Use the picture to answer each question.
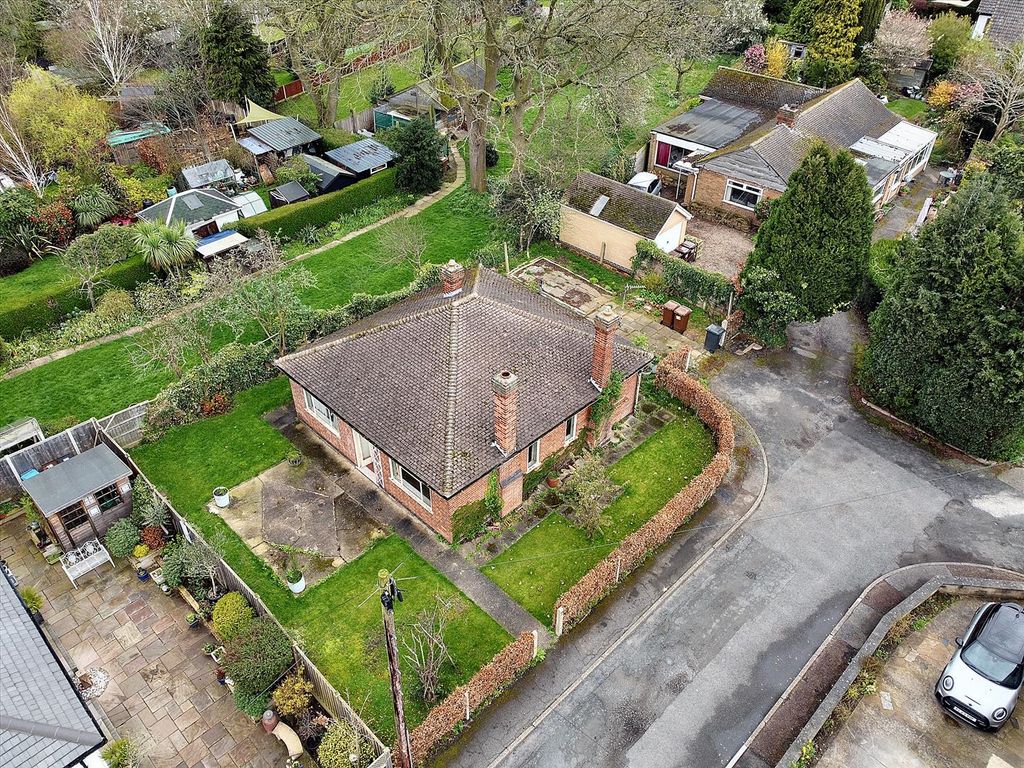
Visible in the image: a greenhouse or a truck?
greenhouse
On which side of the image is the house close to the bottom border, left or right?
left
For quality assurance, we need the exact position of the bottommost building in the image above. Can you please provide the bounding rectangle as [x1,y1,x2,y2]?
[0,562,113,768]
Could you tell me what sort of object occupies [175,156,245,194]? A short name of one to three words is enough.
greenhouse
